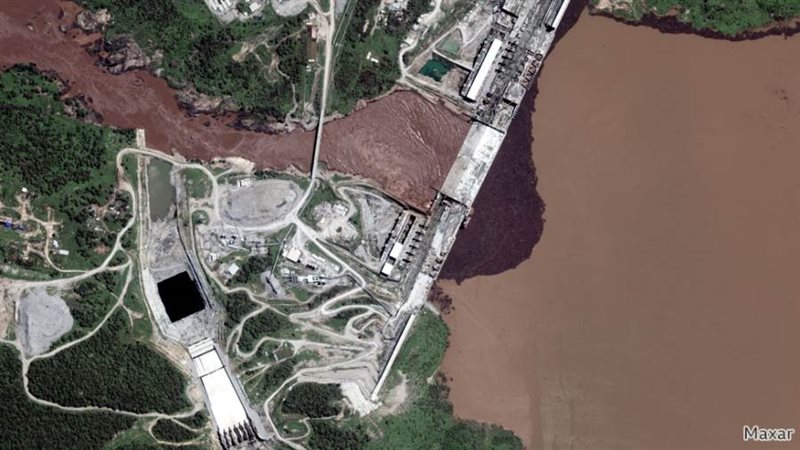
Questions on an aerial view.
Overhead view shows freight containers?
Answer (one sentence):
No, the scene contains no freight container.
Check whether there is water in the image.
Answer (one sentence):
Yes, water can be seen from above here.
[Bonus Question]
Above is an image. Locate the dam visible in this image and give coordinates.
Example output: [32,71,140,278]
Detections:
[371,0,571,401]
